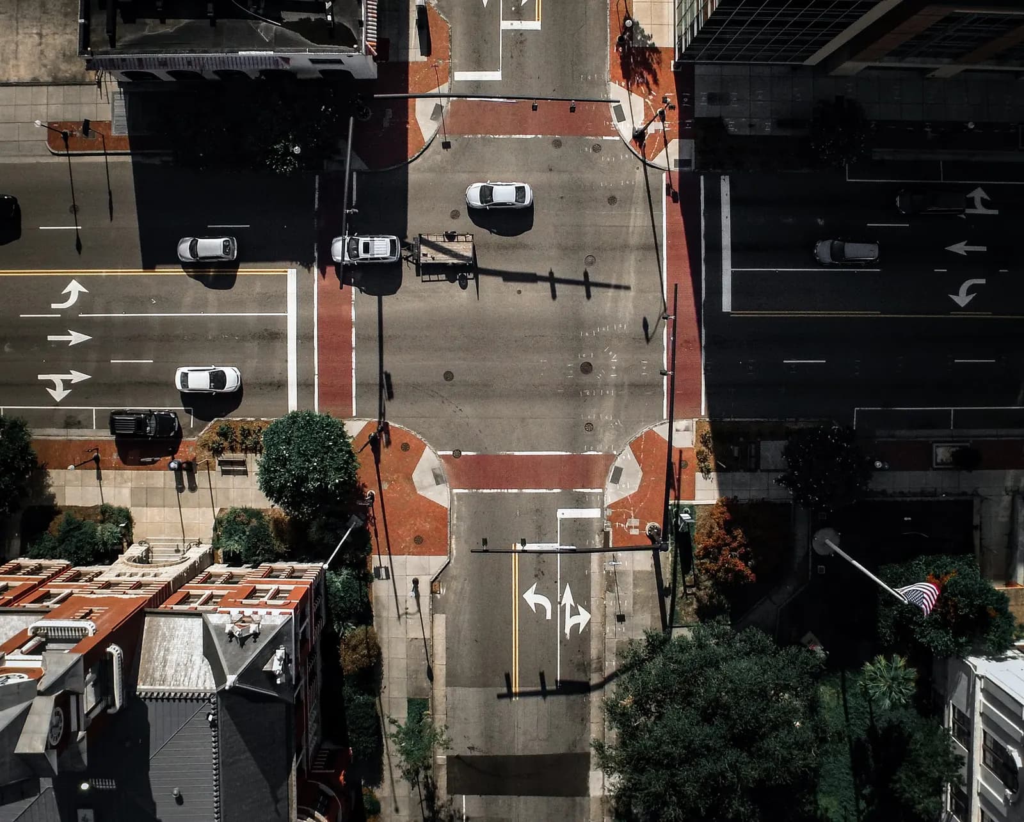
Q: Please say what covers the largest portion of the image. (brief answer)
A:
paved ground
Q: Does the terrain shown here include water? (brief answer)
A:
No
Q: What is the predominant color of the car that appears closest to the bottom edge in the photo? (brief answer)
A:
black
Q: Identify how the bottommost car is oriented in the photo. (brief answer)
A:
horizontally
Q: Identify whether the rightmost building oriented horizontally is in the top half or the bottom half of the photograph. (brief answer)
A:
top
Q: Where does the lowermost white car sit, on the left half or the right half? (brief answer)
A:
left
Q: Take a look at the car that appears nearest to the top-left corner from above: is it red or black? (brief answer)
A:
black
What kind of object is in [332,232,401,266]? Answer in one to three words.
car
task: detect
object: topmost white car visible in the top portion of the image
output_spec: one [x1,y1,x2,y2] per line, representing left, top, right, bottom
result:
[466,179,532,211]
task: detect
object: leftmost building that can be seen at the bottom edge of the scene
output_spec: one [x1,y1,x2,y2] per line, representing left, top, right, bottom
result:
[0,525,361,822]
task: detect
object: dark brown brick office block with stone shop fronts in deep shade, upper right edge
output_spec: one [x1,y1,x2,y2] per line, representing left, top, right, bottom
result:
[831,0,1024,68]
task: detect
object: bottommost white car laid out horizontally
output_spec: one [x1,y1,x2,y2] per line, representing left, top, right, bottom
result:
[175,364,241,396]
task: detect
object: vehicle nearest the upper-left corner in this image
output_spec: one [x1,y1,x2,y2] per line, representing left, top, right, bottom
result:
[0,194,24,222]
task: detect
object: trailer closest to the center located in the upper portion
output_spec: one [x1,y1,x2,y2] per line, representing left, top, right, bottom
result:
[401,239,475,275]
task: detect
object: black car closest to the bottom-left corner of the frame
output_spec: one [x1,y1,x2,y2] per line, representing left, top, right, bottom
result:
[108,408,179,440]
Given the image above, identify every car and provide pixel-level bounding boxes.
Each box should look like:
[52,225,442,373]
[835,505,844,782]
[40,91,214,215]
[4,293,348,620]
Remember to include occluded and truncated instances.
[466,179,532,211]
[108,408,179,440]
[178,233,238,265]
[0,194,24,222]
[175,364,241,396]
[813,235,881,268]
[332,232,401,266]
